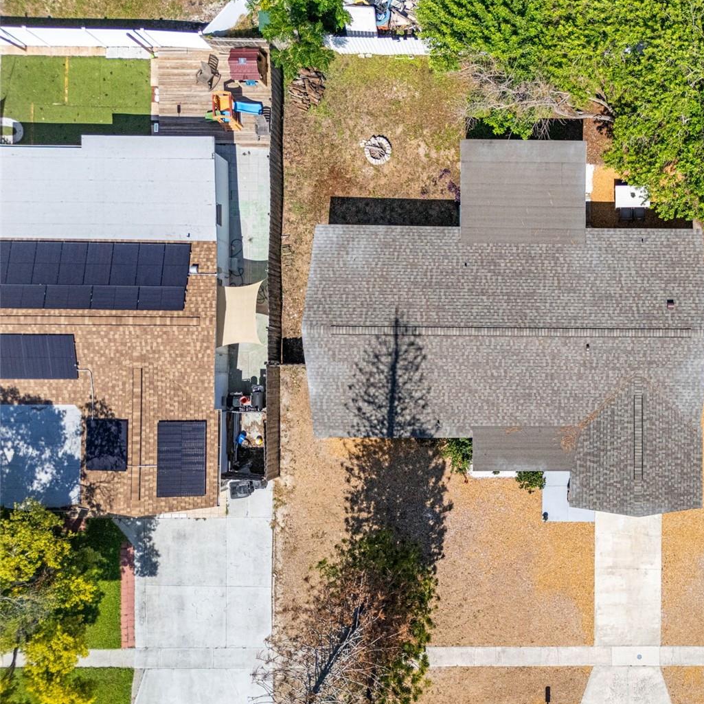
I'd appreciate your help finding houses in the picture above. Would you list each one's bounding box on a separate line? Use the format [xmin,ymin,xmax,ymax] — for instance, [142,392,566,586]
[0,135,236,522]
[303,141,704,515]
